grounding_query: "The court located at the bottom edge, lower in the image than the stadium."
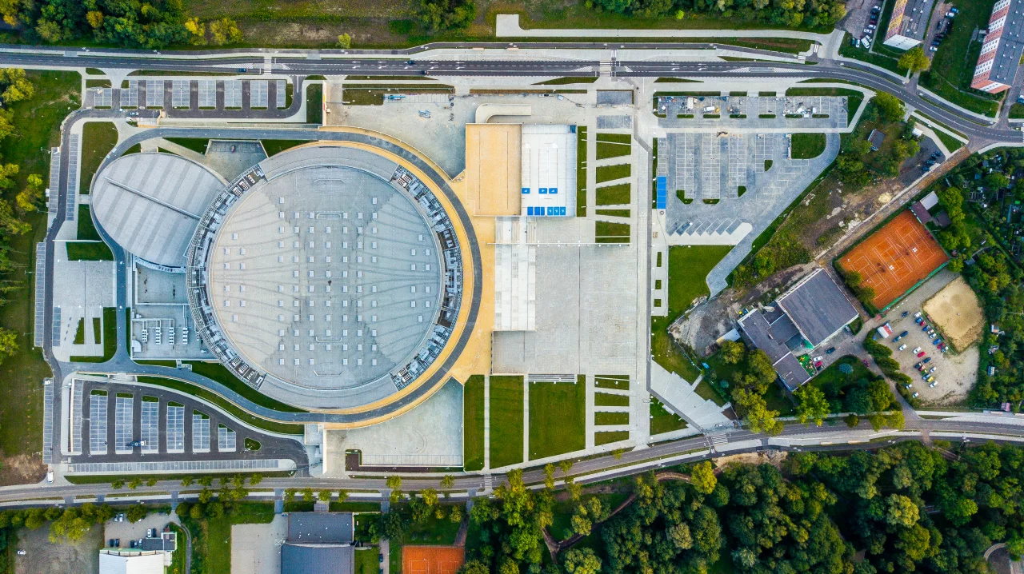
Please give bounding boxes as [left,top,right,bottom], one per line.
[402,544,465,574]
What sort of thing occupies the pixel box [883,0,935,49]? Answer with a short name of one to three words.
building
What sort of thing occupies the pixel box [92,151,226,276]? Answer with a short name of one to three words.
building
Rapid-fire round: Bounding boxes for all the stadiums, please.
[187,147,464,409]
